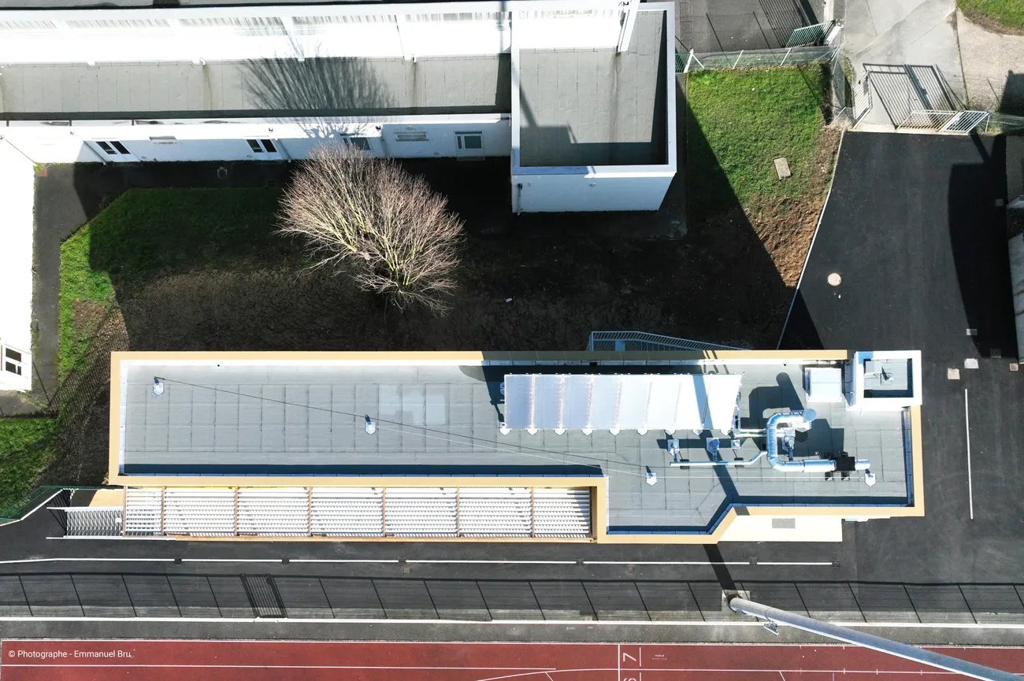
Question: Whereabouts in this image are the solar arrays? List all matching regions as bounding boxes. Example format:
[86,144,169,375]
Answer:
[500,373,743,435]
